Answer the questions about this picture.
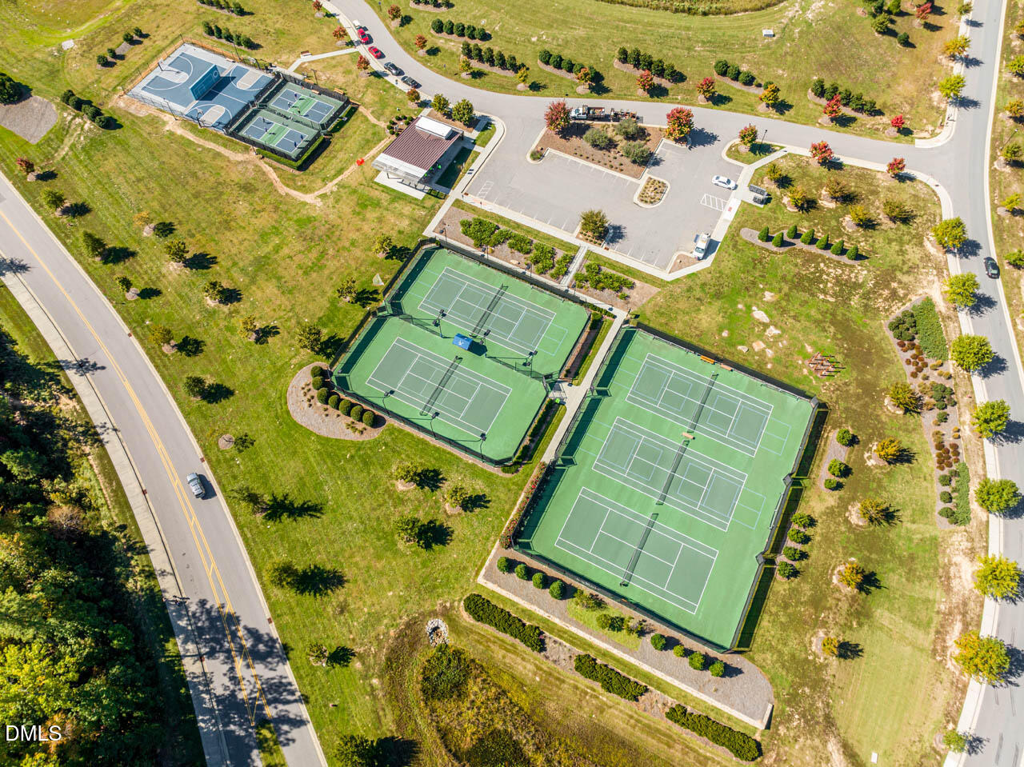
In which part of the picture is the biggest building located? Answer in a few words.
top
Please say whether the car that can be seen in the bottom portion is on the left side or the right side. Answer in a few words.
left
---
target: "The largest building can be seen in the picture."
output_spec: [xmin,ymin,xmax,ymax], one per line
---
[379,113,461,191]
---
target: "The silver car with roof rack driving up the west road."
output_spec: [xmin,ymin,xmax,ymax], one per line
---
[187,472,207,501]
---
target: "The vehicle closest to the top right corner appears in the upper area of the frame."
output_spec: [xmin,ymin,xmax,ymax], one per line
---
[984,259,999,279]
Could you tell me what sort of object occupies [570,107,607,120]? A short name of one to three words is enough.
vehicle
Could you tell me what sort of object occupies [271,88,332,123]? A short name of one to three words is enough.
sports court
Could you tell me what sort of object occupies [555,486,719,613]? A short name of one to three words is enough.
tennis court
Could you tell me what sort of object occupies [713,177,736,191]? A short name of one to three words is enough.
car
